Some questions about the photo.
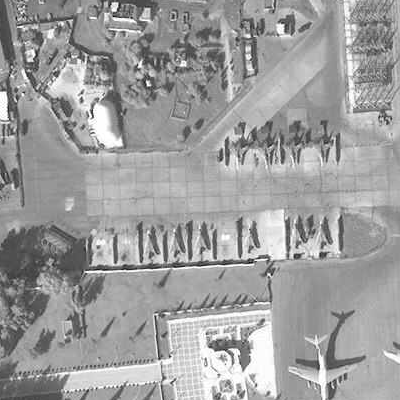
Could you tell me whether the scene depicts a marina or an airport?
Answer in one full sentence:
What you see here is an airport.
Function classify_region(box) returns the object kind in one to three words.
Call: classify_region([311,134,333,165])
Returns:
airplane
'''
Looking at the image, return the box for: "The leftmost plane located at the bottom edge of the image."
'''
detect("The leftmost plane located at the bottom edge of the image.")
[287,333,357,400]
